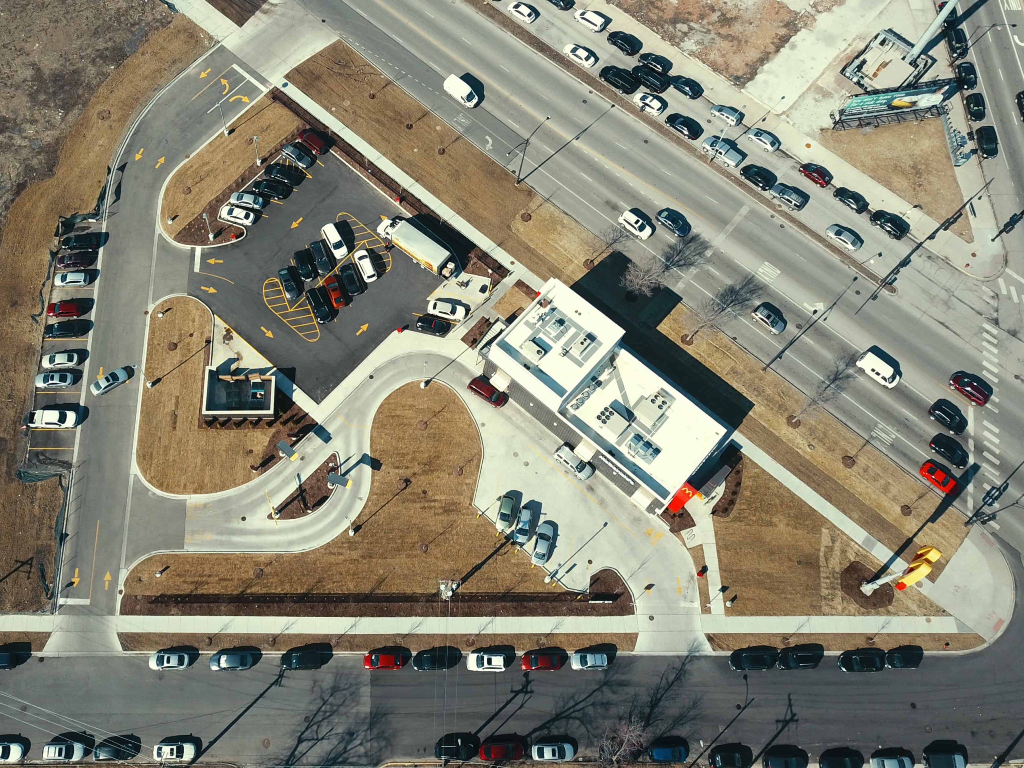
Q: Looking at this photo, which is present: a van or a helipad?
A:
van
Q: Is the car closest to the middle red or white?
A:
red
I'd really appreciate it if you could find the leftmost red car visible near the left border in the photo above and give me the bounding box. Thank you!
[47,302,81,319]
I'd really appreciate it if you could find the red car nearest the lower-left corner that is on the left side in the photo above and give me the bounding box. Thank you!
[364,652,401,671]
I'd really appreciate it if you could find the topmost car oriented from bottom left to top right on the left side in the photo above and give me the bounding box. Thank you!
[90,367,128,398]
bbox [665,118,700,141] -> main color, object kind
black car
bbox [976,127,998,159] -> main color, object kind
black car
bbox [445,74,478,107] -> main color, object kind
white van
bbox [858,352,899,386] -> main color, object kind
white van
